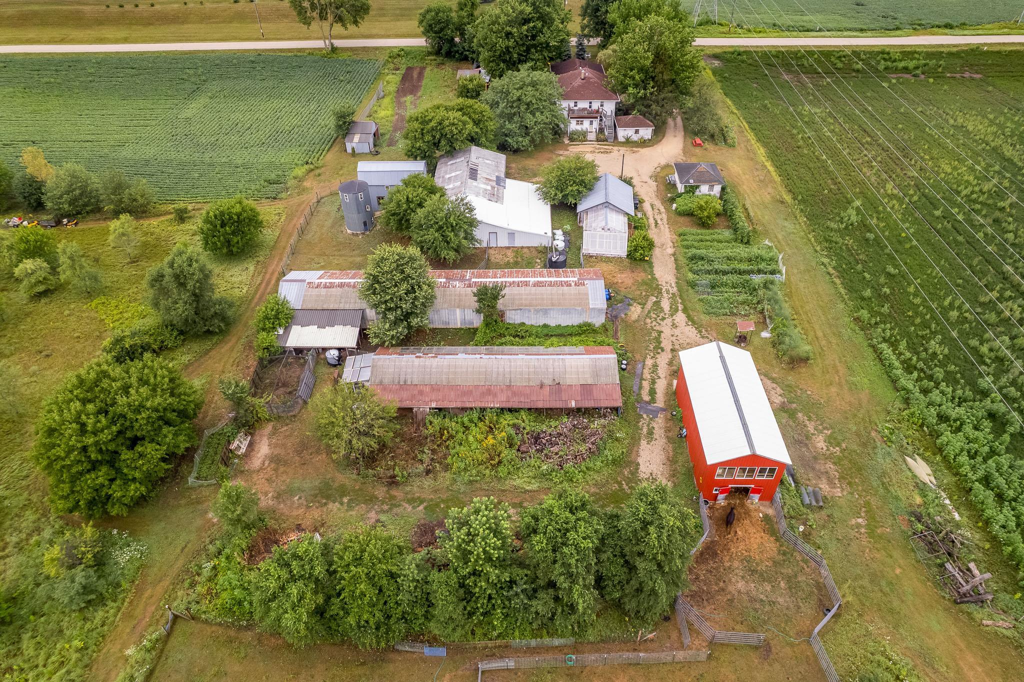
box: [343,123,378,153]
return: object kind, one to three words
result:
shed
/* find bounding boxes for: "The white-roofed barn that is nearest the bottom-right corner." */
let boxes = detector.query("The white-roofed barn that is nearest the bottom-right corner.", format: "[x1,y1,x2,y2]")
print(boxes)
[675,340,790,506]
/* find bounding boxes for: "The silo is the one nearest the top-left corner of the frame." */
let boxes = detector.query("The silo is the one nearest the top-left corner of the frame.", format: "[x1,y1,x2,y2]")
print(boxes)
[339,178,377,234]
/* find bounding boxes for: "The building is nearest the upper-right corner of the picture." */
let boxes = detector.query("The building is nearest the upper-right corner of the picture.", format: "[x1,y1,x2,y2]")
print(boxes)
[670,161,726,199]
